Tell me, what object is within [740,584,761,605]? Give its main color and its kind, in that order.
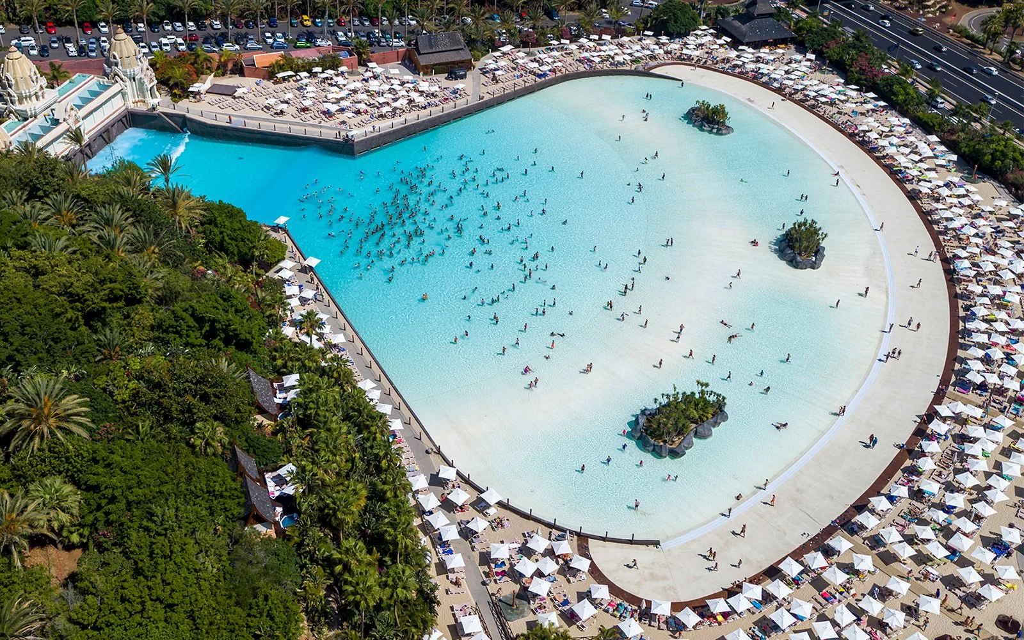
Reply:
white umbrella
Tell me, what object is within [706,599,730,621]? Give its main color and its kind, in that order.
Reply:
white umbrella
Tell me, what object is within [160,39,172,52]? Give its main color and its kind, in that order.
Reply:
white vehicle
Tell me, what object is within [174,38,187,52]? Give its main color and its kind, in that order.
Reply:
white vehicle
